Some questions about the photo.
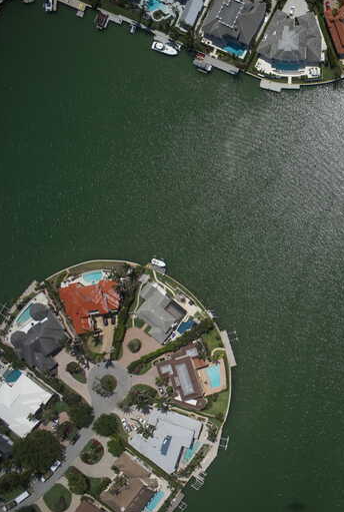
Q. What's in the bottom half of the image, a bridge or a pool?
pool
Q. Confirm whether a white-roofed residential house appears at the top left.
No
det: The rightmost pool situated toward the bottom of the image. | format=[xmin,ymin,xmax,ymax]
[204,363,221,389]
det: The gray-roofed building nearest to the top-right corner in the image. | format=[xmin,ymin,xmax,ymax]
[260,9,322,60]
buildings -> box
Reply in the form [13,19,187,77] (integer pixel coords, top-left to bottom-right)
[128,409,206,475]
[0,429,17,458]
[0,373,56,437]
[324,0,344,58]
[260,9,322,60]
[155,349,210,410]
[76,499,107,512]
[100,451,156,512]
[10,302,69,372]
[183,0,206,27]
[59,279,123,334]
[200,0,267,46]
[136,282,188,345]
